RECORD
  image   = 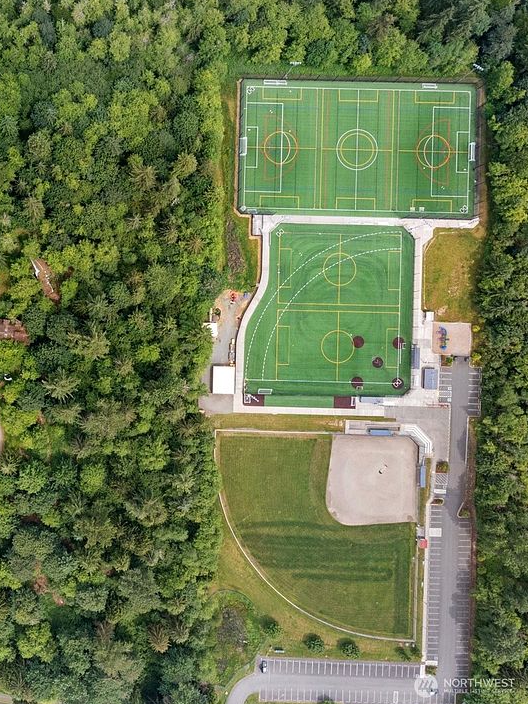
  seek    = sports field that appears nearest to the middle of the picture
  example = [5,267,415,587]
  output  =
[243,224,415,409]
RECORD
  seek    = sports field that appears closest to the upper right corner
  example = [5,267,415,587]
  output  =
[240,80,475,217]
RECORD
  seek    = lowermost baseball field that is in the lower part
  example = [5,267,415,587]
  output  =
[215,431,417,640]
